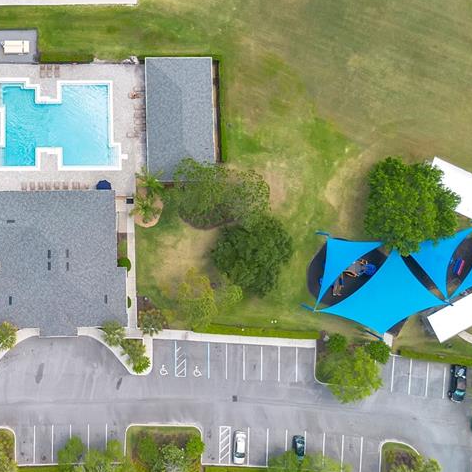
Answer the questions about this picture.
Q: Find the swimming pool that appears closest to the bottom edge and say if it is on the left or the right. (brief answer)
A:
left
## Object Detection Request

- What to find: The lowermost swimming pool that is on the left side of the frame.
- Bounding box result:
[0,78,127,171]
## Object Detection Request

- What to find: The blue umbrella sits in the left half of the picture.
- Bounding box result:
[96,178,111,191]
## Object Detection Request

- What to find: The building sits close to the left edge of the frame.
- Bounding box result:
[0,191,127,337]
